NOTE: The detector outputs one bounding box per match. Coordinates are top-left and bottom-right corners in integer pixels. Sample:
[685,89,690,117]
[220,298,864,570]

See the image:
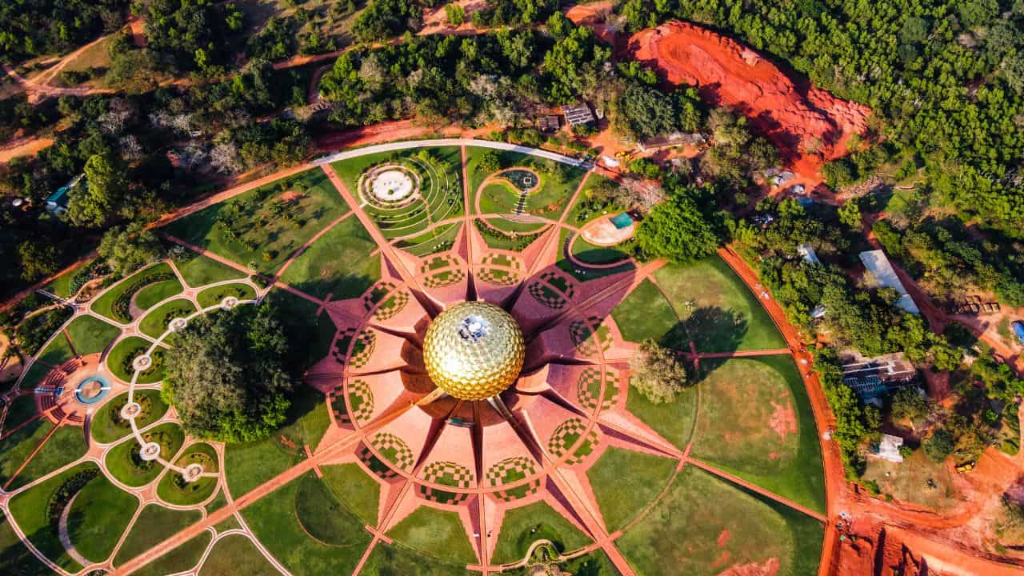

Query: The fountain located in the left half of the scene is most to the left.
[74,374,111,405]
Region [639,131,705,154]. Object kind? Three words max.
house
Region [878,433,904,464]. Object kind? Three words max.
house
